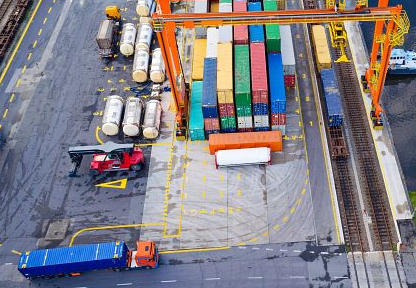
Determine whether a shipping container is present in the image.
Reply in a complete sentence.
Yes, the frame does contain a shipping container.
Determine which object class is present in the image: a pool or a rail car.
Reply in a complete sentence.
Visible in the photo is a rail car.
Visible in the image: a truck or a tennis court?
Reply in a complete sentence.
Looking from above, you can make out a truck.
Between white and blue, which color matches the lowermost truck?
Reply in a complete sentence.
The color of the lowermost truck is blue.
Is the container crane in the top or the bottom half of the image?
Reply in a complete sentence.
Seen from above, the container crane lies in the top half of the view.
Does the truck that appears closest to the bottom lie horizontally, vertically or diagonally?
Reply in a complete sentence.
The truck that appears closest to the bottom has been laid out horizontally relative to the frame.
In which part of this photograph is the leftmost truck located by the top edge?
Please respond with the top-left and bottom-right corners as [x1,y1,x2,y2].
[101,9,122,53]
